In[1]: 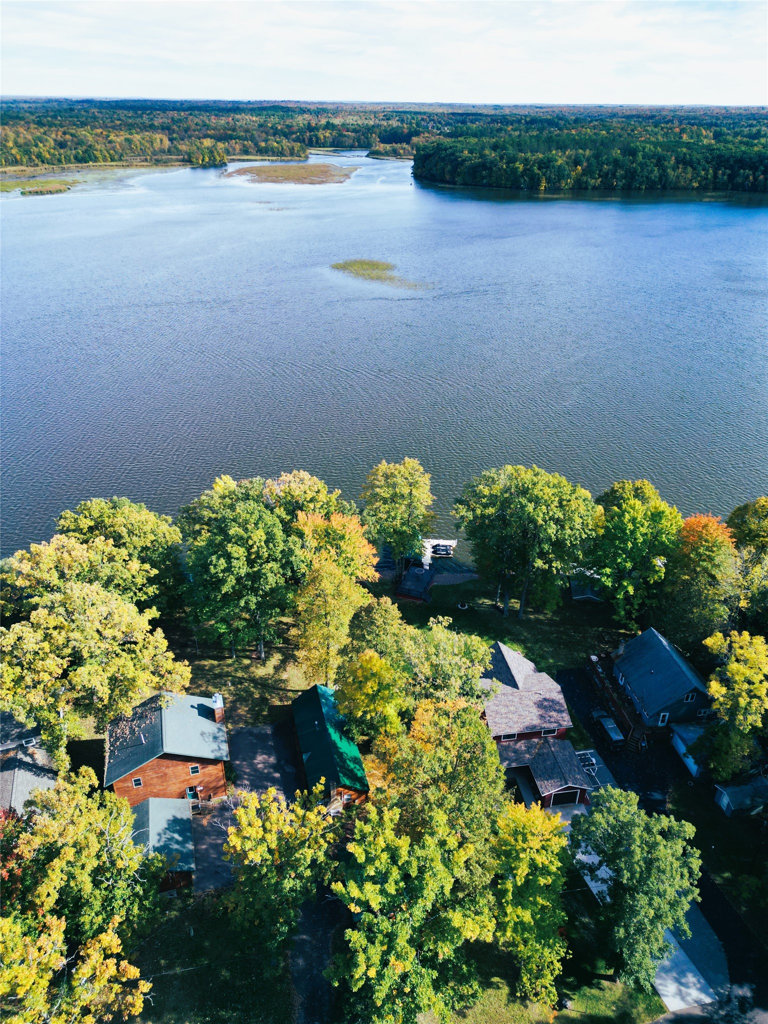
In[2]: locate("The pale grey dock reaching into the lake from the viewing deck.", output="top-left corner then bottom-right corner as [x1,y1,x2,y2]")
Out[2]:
[423,536,459,568]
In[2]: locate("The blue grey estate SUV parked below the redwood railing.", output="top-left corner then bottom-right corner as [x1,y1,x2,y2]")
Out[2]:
[593,708,626,745]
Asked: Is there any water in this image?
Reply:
Yes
